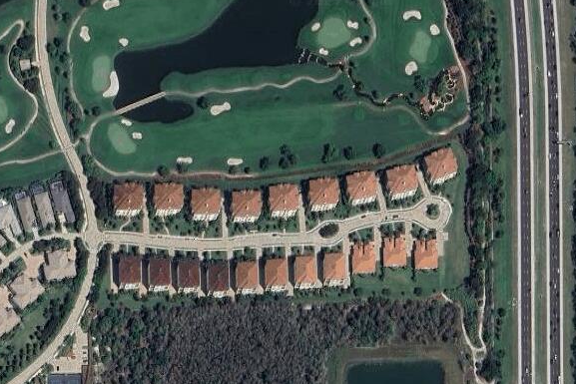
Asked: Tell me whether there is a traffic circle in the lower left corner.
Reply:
No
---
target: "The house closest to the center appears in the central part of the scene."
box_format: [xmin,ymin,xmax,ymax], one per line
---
[269,183,301,220]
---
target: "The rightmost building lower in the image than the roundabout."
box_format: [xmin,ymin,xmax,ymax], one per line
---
[415,240,437,272]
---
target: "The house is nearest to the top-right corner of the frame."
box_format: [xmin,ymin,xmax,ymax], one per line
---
[424,146,459,187]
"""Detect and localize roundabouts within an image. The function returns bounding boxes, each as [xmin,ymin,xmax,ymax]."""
[417,195,451,230]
